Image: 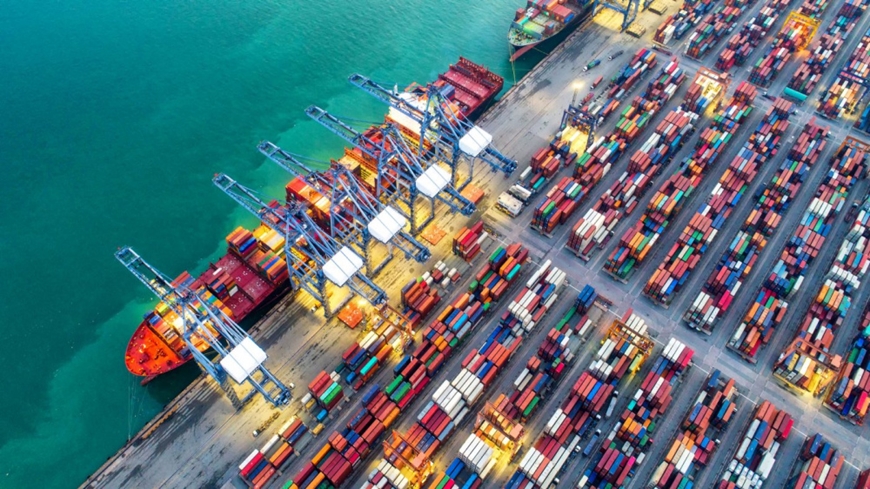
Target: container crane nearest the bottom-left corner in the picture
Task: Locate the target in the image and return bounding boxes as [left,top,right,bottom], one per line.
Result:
[116,244,294,412]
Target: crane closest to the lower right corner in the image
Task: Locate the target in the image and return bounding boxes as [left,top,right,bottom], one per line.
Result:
[771,340,845,398]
